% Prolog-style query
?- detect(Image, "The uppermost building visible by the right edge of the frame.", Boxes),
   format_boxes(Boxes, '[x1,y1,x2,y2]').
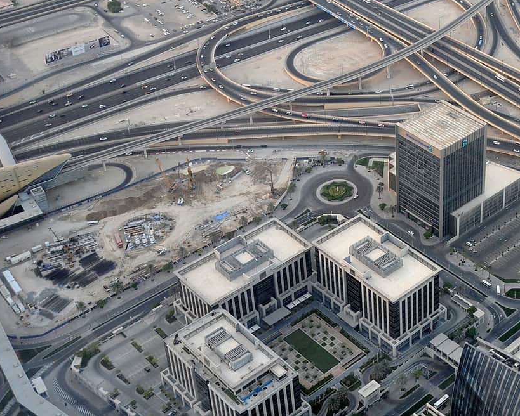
[384,102,520,242]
